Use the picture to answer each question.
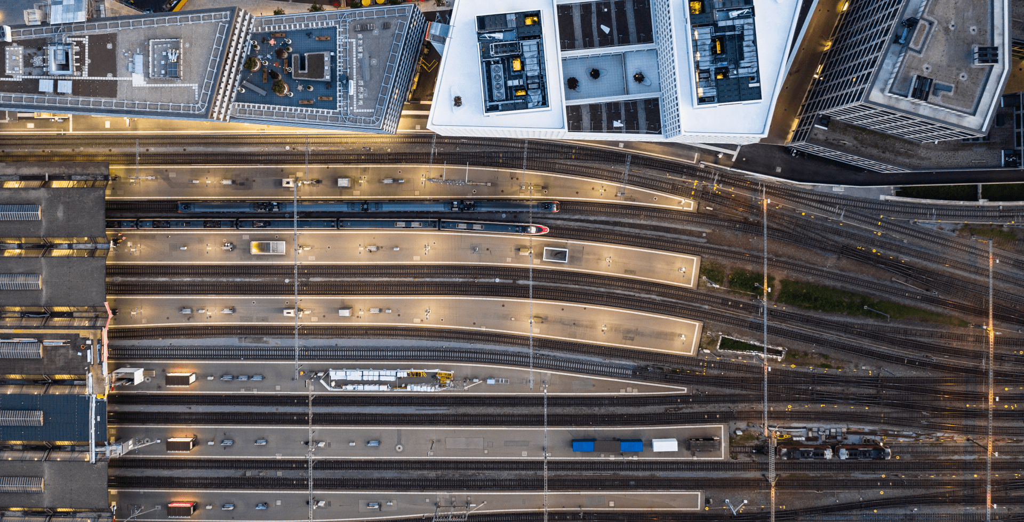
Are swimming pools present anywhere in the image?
No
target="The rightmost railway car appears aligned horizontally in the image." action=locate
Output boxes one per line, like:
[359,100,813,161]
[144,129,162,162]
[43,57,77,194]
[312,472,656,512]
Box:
[831,445,889,459]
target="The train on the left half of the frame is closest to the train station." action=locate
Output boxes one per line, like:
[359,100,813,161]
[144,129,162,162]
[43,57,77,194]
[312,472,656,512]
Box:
[106,218,549,235]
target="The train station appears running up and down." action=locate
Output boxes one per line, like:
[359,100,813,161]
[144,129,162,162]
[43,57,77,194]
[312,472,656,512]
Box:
[0,162,111,522]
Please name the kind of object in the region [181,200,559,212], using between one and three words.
train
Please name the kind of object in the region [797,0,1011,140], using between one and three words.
building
